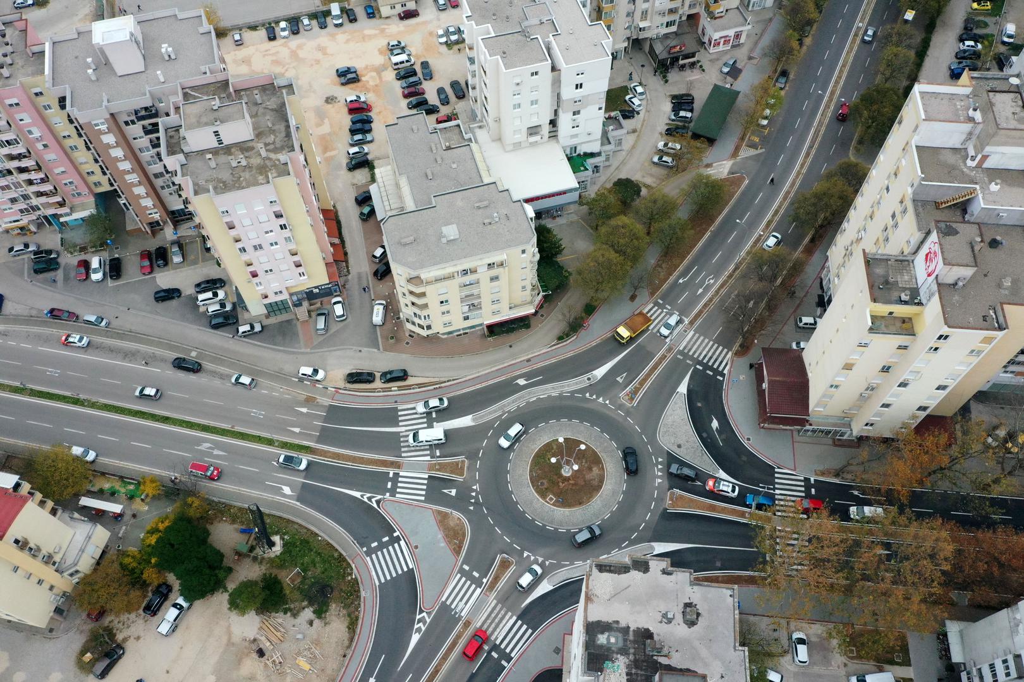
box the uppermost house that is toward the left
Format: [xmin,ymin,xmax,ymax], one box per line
[376,0,419,31]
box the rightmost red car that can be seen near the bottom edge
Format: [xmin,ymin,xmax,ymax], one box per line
[460,628,490,664]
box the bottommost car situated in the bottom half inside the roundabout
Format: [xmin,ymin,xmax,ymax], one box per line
[570,522,605,550]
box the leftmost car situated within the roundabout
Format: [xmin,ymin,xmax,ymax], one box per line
[496,420,528,450]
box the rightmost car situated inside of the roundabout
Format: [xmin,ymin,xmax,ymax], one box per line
[623,446,639,477]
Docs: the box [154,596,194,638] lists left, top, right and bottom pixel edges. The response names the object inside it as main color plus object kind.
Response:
white truck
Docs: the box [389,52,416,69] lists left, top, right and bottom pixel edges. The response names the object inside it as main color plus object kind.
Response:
white vehicle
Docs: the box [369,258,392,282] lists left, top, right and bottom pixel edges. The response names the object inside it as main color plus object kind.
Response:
black car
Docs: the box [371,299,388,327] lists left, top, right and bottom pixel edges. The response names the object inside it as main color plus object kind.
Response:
white vehicle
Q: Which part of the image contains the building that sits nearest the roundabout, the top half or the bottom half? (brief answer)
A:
bottom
